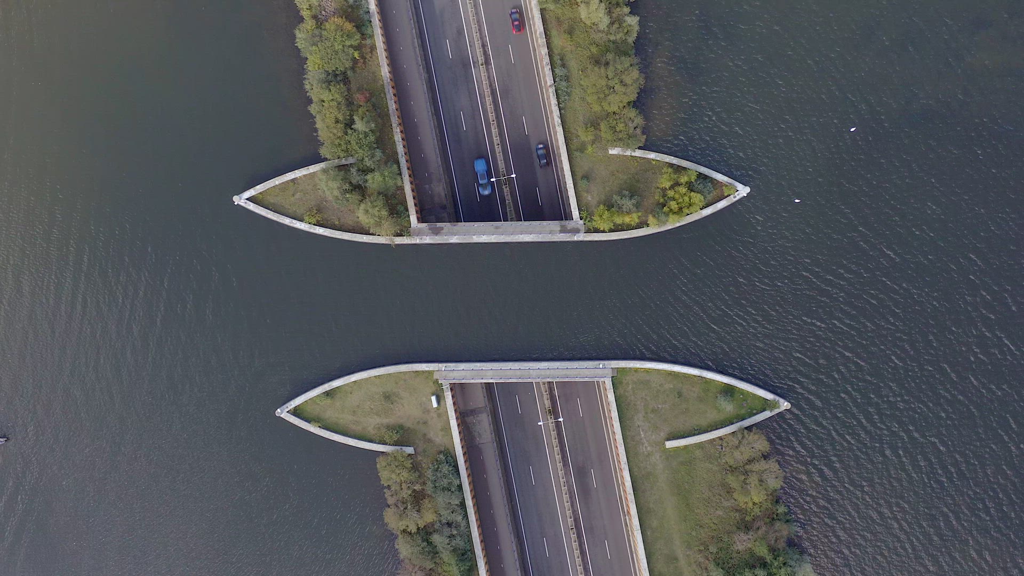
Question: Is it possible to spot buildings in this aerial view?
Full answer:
No, I find no building anywhere in the image.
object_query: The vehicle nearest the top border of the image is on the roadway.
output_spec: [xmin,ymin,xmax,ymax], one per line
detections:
[509,9,524,36]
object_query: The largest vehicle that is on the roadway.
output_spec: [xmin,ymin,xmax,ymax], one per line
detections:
[473,158,492,195]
